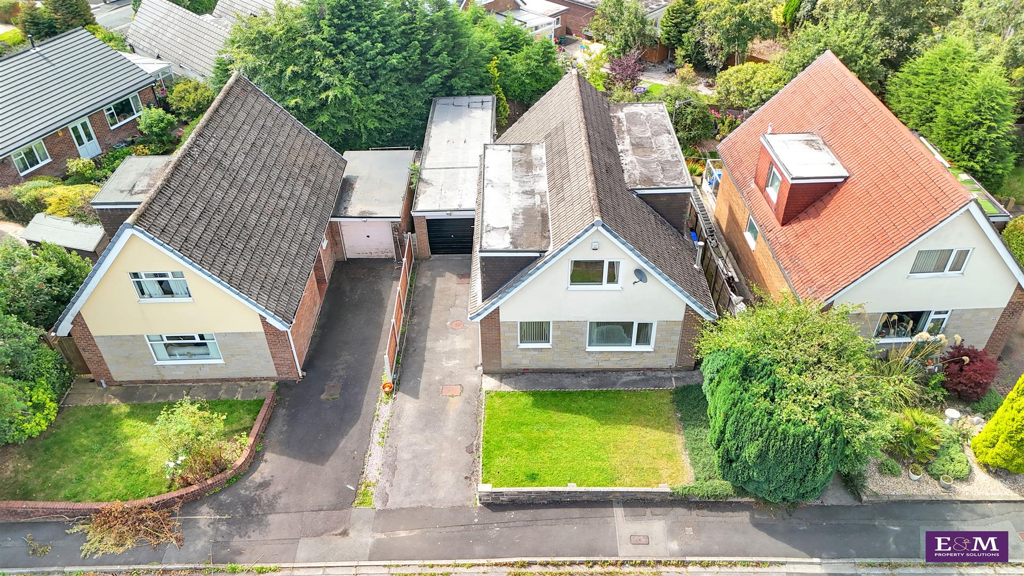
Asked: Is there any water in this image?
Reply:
No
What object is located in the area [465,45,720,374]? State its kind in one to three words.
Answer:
house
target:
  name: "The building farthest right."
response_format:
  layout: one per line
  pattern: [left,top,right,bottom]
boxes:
[719,52,1024,361]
